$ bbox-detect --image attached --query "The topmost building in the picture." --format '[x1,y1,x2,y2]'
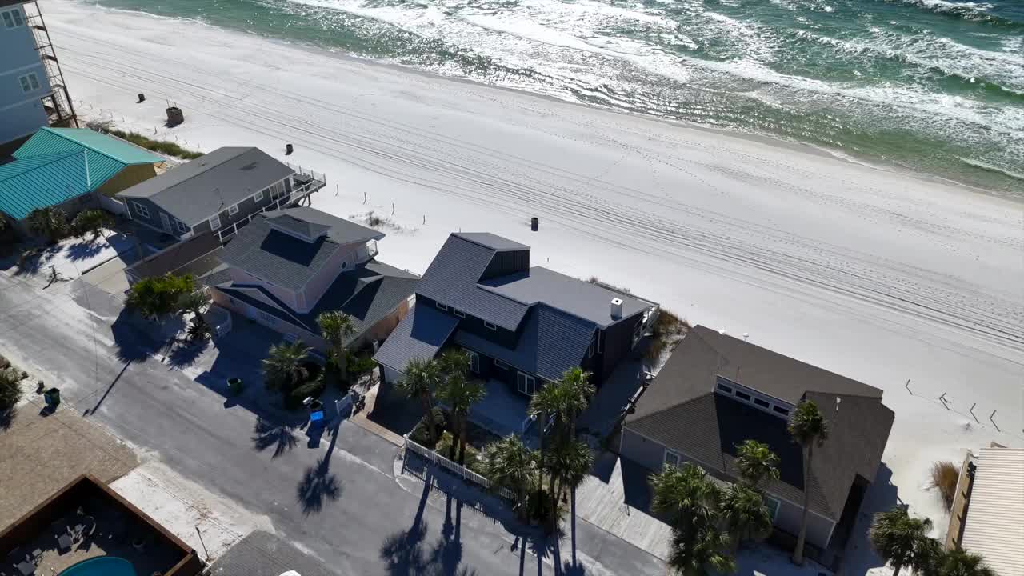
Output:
[0,0,80,145]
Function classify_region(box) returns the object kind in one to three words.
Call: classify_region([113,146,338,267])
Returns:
house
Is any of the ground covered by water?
Yes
